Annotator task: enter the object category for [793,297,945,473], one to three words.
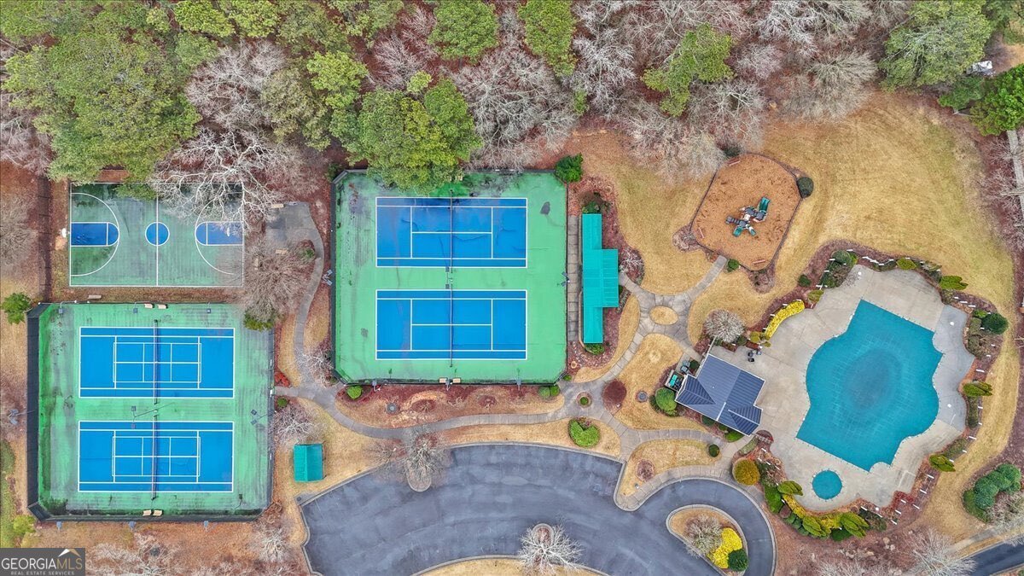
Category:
swimming pool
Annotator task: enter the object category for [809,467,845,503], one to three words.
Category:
swimming pool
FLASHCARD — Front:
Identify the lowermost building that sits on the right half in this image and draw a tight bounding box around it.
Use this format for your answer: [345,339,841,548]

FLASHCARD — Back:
[675,354,765,436]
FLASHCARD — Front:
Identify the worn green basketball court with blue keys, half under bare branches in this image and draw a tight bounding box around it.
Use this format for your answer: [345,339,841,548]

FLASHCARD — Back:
[68,181,245,288]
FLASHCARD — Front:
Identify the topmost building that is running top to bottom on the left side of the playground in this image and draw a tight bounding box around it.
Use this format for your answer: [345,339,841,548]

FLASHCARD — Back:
[582,214,618,344]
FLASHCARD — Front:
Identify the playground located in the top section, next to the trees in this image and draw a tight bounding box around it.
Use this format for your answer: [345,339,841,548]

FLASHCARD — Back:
[690,151,804,273]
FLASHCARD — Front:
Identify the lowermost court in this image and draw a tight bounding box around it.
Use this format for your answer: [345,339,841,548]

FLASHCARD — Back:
[39,410,269,514]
